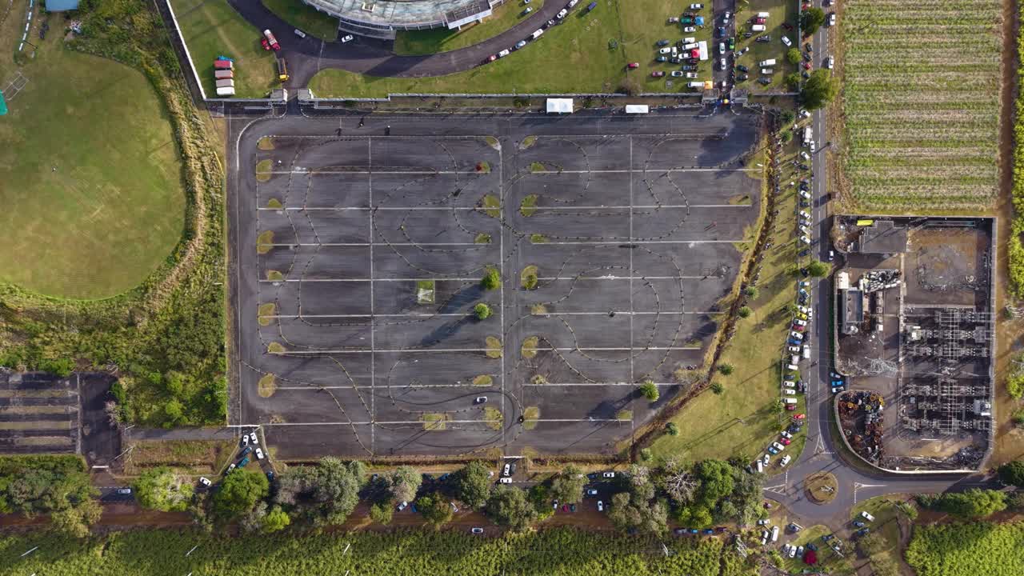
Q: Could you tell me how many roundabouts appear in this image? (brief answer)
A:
one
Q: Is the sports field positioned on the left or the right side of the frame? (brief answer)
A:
left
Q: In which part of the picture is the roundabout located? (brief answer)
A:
bottom right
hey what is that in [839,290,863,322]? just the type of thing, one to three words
building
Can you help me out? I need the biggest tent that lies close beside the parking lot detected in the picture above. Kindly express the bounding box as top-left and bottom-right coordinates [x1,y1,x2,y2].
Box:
[546,98,573,114]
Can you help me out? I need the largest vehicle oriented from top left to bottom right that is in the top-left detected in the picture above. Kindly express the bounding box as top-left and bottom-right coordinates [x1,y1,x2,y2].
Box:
[265,31,282,53]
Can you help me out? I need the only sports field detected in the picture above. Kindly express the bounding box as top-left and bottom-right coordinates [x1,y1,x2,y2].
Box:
[0,48,185,300]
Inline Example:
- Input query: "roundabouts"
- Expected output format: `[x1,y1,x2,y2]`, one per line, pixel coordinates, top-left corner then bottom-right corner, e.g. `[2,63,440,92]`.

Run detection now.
[787,453,856,522]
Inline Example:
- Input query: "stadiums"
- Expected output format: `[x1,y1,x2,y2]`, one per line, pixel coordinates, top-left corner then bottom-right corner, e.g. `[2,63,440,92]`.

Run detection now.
[297,0,503,41]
